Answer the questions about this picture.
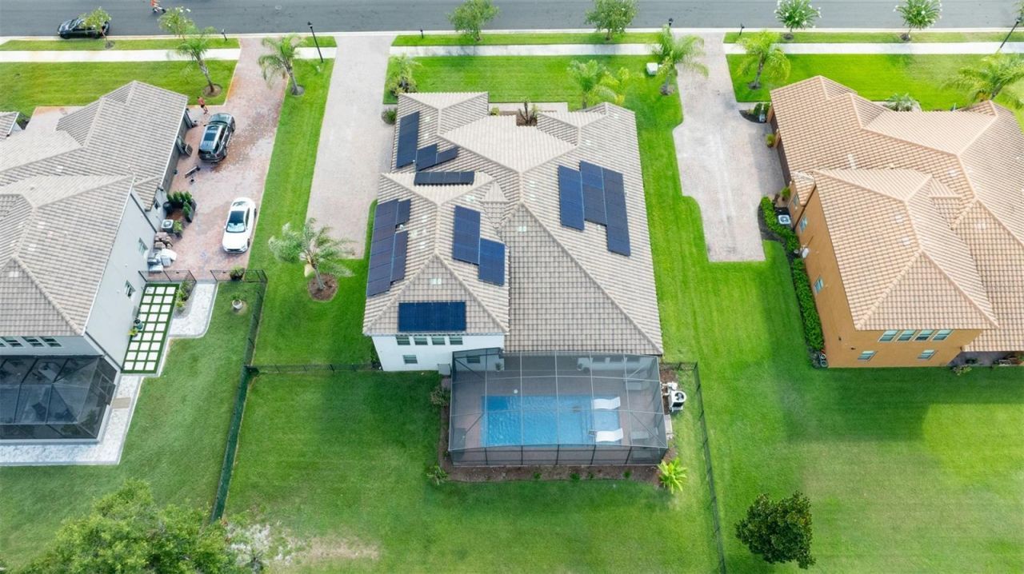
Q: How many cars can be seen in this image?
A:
3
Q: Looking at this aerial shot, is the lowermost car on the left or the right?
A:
left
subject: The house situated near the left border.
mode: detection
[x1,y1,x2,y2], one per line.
[0,80,190,370]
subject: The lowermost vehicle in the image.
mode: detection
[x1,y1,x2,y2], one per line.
[218,197,256,254]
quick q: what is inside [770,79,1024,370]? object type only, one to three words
house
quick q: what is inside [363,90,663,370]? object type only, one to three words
house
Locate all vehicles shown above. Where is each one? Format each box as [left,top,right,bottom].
[218,197,256,254]
[196,111,233,160]
[56,12,110,38]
